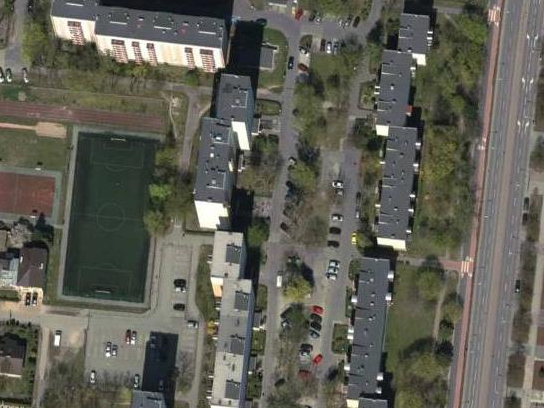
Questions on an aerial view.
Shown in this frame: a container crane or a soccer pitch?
soccer pitch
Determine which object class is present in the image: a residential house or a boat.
residential house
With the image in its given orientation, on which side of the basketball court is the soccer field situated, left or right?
to the right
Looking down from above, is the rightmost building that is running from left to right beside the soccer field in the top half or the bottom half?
top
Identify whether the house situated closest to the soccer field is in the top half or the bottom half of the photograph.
bottom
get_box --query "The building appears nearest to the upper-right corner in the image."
[398,13,433,65]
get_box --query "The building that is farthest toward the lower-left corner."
[0,338,27,378]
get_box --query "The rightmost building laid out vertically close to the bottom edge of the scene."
[345,258,395,408]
